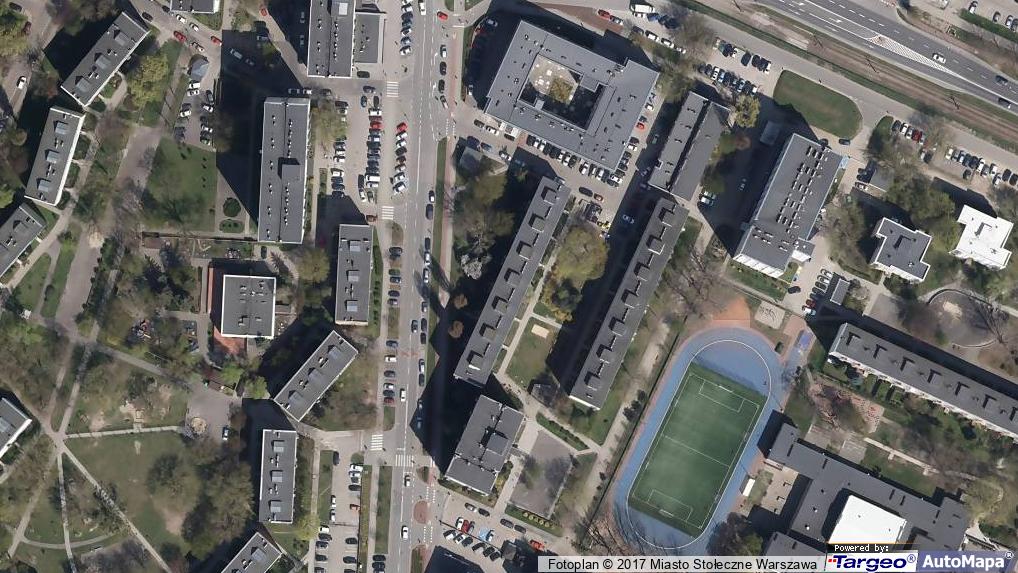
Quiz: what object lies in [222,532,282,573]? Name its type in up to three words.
building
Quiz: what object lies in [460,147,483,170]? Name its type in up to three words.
shed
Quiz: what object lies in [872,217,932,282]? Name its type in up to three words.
building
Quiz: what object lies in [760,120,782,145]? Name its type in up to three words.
shed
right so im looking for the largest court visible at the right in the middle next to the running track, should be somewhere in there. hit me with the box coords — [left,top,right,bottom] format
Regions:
[786,313,816,360]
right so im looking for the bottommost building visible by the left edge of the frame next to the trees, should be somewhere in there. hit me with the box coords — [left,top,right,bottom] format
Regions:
[0,398,32,457]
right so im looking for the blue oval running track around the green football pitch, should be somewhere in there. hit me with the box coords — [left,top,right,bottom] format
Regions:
[613,327,801,564]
